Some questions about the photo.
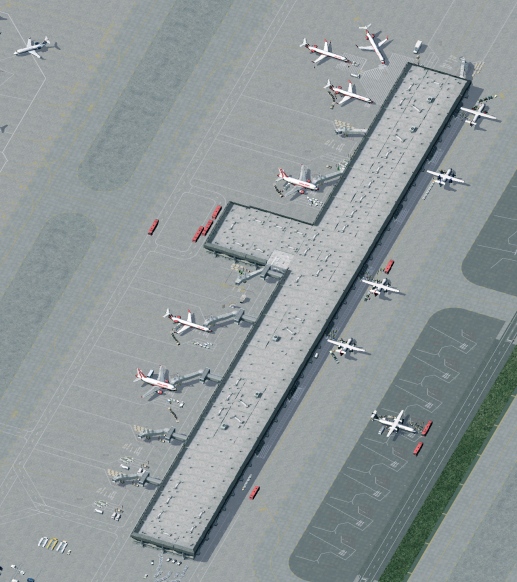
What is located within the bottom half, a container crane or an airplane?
airplane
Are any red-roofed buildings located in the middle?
No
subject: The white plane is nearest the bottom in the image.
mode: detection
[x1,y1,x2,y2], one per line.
[373,410,416,438]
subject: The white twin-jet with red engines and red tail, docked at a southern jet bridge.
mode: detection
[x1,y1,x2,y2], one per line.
[128,365,176,399]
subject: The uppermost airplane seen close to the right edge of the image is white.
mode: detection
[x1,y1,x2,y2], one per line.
[461,105,495,127]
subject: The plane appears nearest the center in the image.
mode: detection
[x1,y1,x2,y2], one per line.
[162,308,211,336]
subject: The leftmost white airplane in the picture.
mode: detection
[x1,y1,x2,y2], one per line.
[15,36,51,56]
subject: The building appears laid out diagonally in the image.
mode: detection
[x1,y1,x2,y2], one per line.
[131,63,473,558]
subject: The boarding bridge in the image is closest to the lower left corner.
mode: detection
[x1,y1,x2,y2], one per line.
[111,471,162,493]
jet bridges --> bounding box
[333,128,369,140]
[202,309,254,330]
[168,368,222,389]
[458,55,466,80]
[234,264,284,287]
[311,168,345,188]
[137,427,187,448]
[111,471,162,493]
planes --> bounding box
[427,170,461,192]
[362,280,397,302]
[373,410,416,438]
[327,340,362,363]
[128,365,176,399]
[354,23,389,63]
[461,105,495,127]
[273,164,318,196]
[162,308,211,336]
[324,80,373,107]
[15,36,51,56]
[301,39,349,66]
